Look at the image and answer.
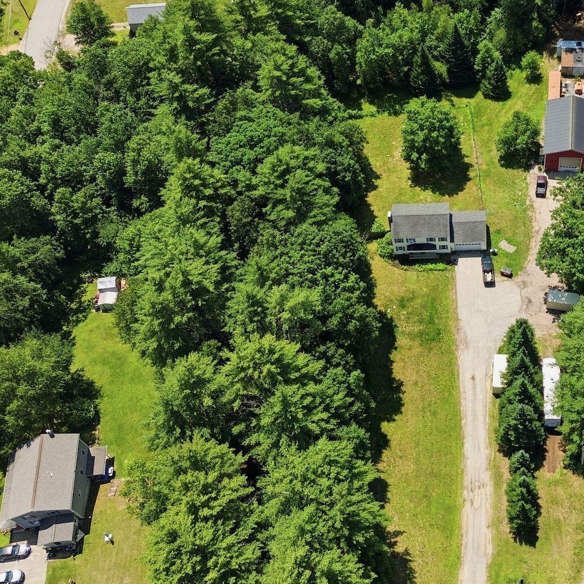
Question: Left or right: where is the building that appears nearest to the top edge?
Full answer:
The building that appears nearest to the top edge appears in the left half of the scene.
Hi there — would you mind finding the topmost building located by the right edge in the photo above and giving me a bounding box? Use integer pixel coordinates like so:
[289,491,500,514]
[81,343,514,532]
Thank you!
[540,94,584,172]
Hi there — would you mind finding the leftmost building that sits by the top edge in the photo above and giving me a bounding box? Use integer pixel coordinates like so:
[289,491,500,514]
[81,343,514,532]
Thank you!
[126,7,159,35]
